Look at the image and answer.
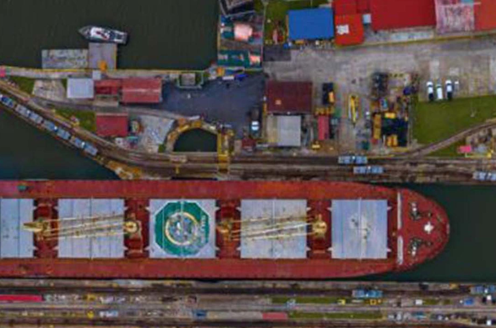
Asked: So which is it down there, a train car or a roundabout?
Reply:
train car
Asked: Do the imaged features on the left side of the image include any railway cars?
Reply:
Yes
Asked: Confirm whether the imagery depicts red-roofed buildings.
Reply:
Yes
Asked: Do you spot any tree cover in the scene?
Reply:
No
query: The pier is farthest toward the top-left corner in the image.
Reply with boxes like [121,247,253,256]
[42,48,88,69]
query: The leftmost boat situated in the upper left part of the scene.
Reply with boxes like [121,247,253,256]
[79,26,127,43]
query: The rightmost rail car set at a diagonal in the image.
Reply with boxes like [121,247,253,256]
[68,134,99,156]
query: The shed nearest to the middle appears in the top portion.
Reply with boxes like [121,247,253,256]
[278,115,301,145]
